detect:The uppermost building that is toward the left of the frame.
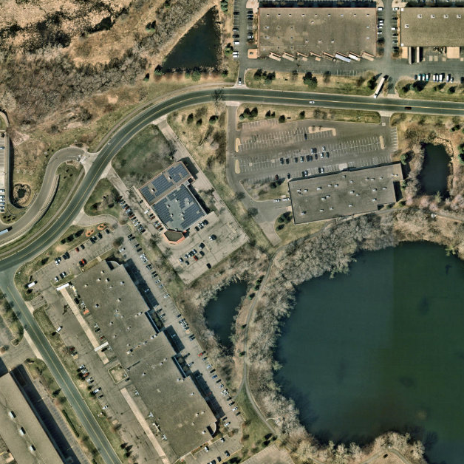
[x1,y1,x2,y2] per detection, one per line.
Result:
[137,162,205,245]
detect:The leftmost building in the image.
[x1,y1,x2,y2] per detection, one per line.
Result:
[0,373,65,464]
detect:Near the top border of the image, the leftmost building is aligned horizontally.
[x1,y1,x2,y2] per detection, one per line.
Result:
[259,7,376,58]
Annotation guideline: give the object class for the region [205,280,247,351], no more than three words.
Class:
pond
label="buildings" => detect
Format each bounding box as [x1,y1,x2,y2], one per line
[55,261,216,457]
[289,164,403,224]
[0,373,65,464]
[137,162,205,245]
[259,7,376,58]
[401,7,464,46]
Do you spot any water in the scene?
Yes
